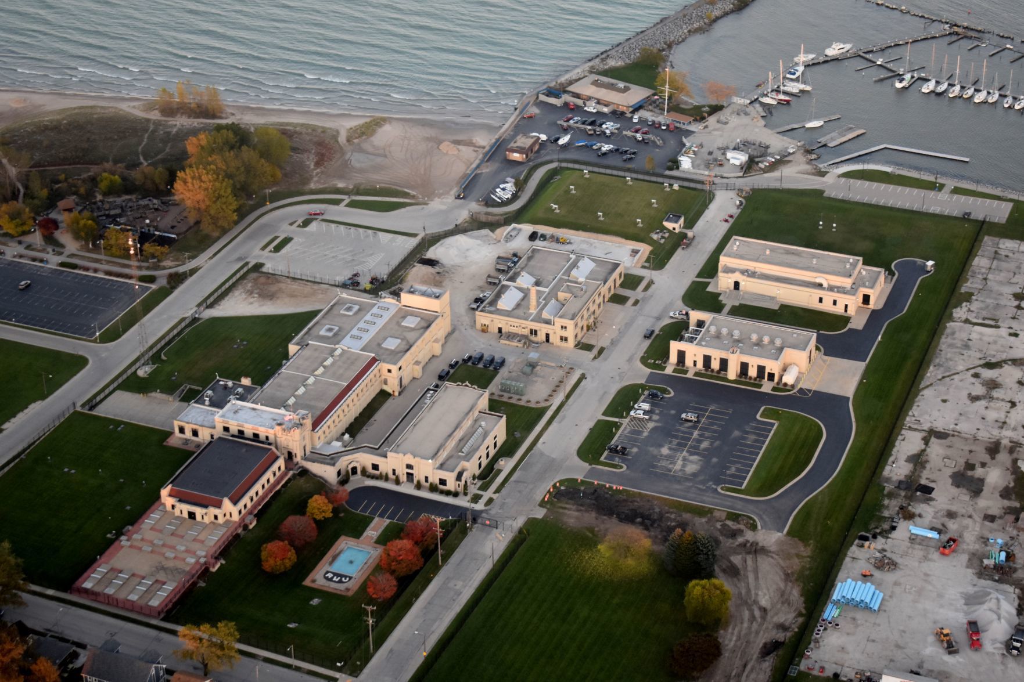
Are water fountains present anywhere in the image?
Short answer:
Yes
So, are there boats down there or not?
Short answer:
Yes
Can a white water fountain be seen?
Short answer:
No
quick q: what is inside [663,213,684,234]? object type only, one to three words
building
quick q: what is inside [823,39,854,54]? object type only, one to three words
boat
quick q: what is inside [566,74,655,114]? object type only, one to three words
building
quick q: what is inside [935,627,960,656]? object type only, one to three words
work vehicle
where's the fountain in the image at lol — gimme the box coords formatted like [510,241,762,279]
[303,512,407,594]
